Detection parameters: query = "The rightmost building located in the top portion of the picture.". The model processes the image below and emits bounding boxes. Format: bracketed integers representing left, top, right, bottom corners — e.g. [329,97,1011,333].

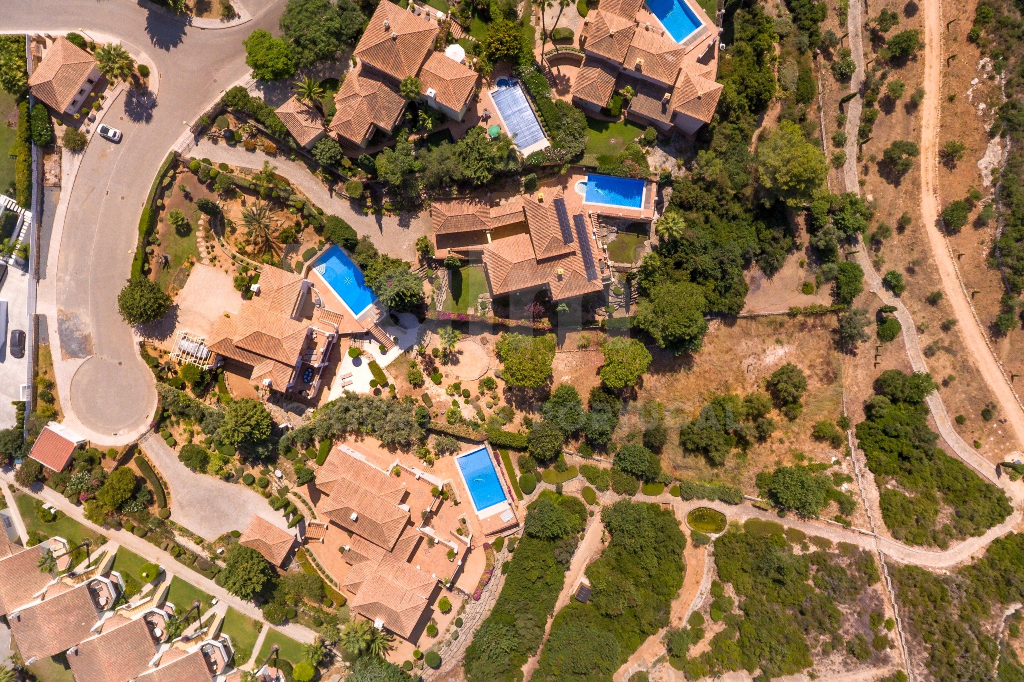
[572,0,724,130]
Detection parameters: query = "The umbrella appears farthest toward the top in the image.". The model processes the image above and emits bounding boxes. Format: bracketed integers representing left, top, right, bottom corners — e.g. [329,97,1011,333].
[446,44,466,63]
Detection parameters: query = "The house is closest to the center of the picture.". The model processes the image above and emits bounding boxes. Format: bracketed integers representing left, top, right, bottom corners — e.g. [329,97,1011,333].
[430,185,603,300]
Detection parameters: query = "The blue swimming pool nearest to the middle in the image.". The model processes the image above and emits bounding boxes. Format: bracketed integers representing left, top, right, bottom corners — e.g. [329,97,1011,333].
[452,445,510,515]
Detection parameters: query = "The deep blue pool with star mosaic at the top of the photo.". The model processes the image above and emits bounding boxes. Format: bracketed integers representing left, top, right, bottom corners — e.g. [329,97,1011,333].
[643,0,706,44]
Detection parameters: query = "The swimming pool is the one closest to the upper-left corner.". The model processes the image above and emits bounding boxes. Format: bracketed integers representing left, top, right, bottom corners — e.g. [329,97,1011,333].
[308,242,380,320]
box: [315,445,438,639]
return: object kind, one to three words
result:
house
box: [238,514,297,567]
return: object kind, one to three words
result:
building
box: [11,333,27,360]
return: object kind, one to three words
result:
car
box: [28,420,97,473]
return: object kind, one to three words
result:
shed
